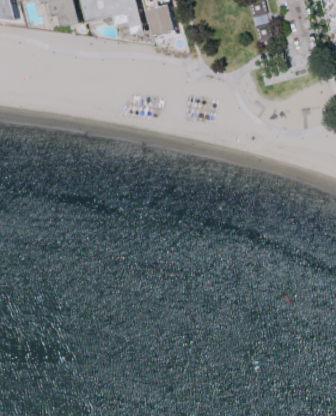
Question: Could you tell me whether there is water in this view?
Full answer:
Yes, some water is visible.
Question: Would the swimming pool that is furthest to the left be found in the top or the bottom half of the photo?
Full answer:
Seen from above, the swimming pool that is furthest to the left lies in the top half of the view.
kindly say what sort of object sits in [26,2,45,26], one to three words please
swimming pool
